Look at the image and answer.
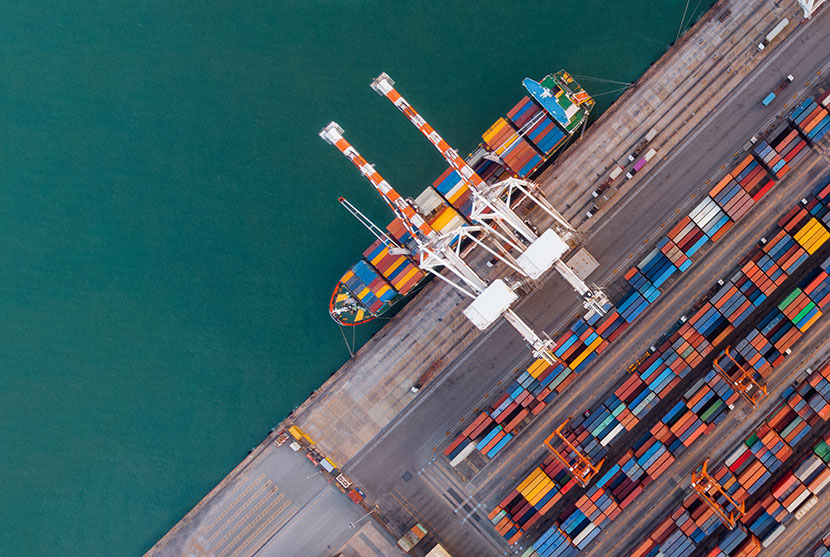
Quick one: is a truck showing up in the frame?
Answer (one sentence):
Yes, there's a truck here.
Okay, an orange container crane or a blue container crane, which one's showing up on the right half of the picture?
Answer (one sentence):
The one visible on the right half of the picture is an orange container crane.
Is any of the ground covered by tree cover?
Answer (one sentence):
No, there is no tree cover in the image.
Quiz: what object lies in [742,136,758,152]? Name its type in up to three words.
vehicle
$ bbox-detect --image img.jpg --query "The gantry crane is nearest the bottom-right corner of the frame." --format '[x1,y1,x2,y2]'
[692,454,750,528]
